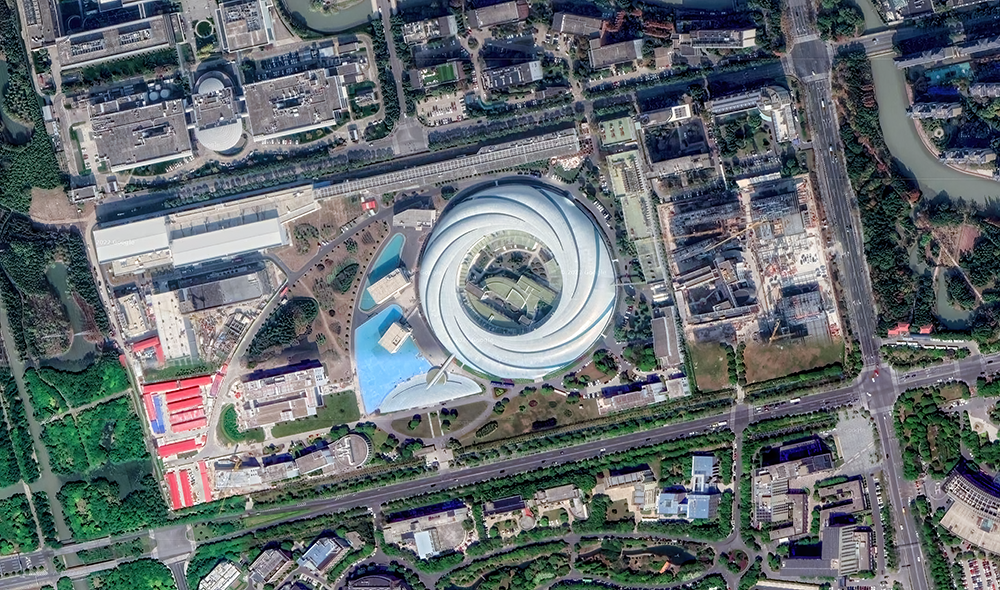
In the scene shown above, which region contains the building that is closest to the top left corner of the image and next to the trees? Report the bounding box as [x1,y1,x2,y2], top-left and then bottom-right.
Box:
[24,0,56,54]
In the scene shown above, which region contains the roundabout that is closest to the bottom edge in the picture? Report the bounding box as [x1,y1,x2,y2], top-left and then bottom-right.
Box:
[719,541,758,579]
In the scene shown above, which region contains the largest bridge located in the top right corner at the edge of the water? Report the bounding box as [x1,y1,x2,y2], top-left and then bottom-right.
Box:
[861,25,898,51]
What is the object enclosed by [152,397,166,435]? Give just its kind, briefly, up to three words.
shed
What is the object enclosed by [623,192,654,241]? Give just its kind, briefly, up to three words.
building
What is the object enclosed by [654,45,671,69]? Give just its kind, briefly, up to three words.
building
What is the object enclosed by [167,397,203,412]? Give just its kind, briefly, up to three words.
house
